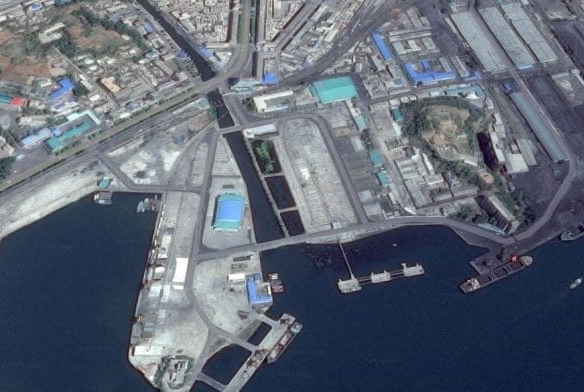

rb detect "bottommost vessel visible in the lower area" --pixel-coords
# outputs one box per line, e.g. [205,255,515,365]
[267,323,303,361]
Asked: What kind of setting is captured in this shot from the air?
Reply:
port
